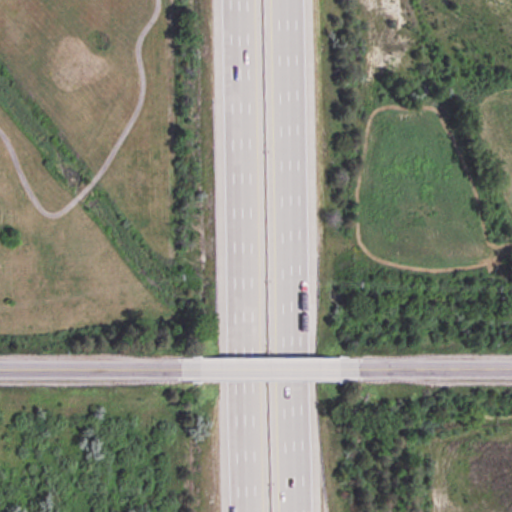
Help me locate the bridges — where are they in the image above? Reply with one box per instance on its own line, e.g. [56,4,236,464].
[184,356,360,384]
